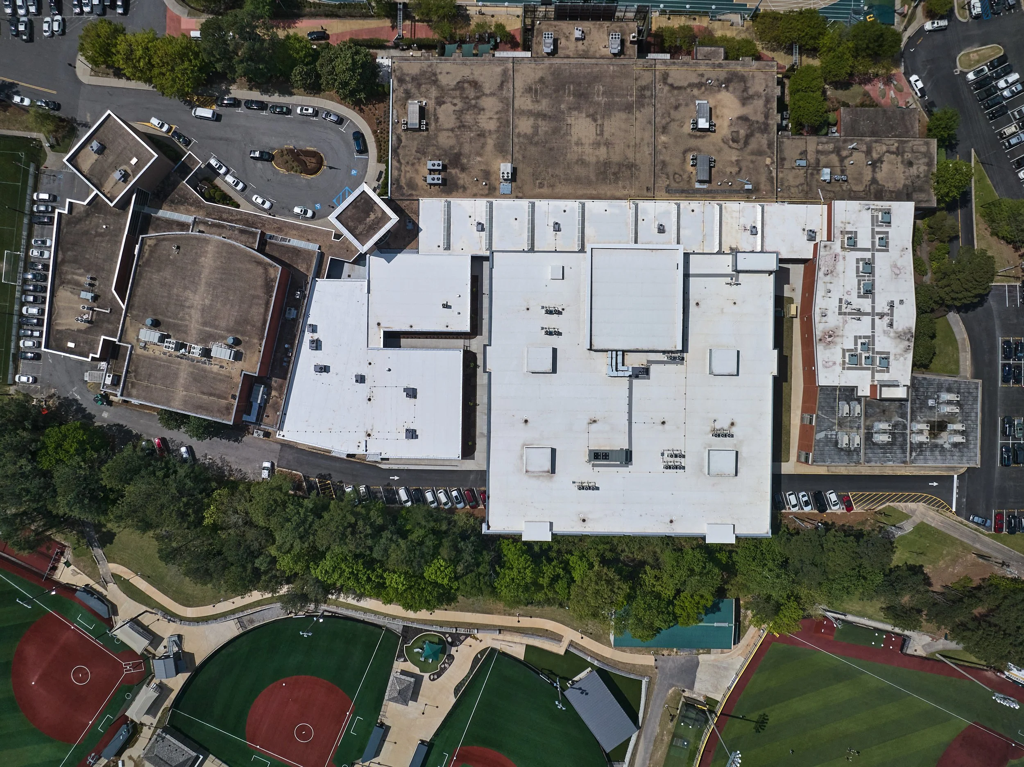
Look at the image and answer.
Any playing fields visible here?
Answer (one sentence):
Yes, a playing field is visible in the scene.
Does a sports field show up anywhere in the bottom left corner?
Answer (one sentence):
Yes, a sports field is visible in the bottom left corner.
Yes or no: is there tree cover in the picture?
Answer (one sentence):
Yes, tree cover can be seen from above here.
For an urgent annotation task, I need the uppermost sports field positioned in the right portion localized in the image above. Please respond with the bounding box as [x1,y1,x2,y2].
[834,623,887,648]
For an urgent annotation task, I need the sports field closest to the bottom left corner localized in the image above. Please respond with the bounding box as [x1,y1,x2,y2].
[0,566,153,767]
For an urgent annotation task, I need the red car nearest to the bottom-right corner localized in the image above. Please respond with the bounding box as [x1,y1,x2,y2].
[993,513,1005,534]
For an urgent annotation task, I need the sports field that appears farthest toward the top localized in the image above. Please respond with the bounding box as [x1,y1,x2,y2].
[0,136,41,384]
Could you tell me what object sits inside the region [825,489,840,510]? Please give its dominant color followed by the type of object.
white car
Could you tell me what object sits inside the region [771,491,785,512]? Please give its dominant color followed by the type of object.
black car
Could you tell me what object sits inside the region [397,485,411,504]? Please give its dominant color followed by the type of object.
white car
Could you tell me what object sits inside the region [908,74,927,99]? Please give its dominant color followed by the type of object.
white vehicle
